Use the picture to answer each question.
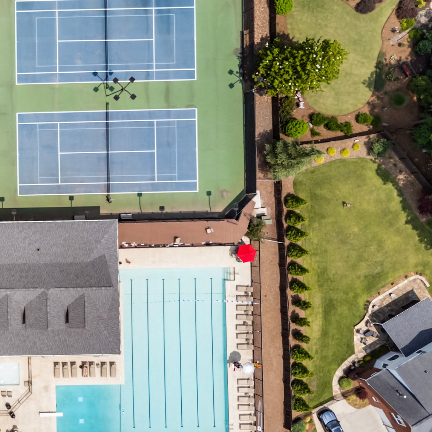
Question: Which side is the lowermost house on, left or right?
right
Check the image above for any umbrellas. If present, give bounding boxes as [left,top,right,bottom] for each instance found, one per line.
[242,362,254,374]
[235,243,254,262]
